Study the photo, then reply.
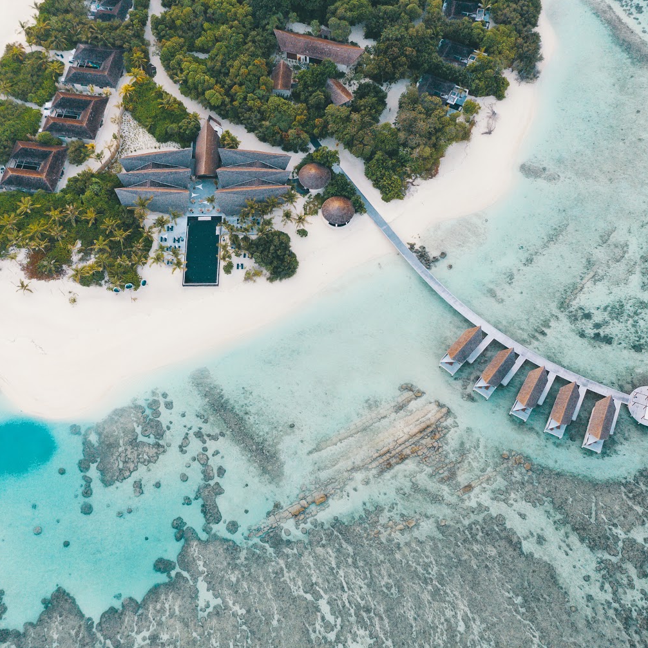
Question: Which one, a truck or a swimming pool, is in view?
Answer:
swimming pool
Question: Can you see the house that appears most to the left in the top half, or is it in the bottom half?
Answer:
top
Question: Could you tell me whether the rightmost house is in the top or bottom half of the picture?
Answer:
bottom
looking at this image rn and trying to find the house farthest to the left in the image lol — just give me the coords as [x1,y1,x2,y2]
[0,140,68,194]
